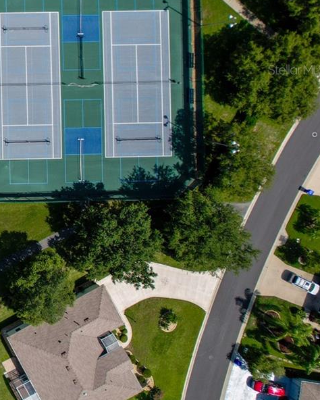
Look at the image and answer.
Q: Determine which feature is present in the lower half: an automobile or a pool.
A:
automobile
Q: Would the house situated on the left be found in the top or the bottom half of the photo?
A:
bottom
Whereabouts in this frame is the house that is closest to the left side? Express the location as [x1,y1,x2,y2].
[6,284,143,400]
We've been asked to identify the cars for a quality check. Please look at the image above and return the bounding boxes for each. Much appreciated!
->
[291,273,320,292]
[256,378,286,396]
